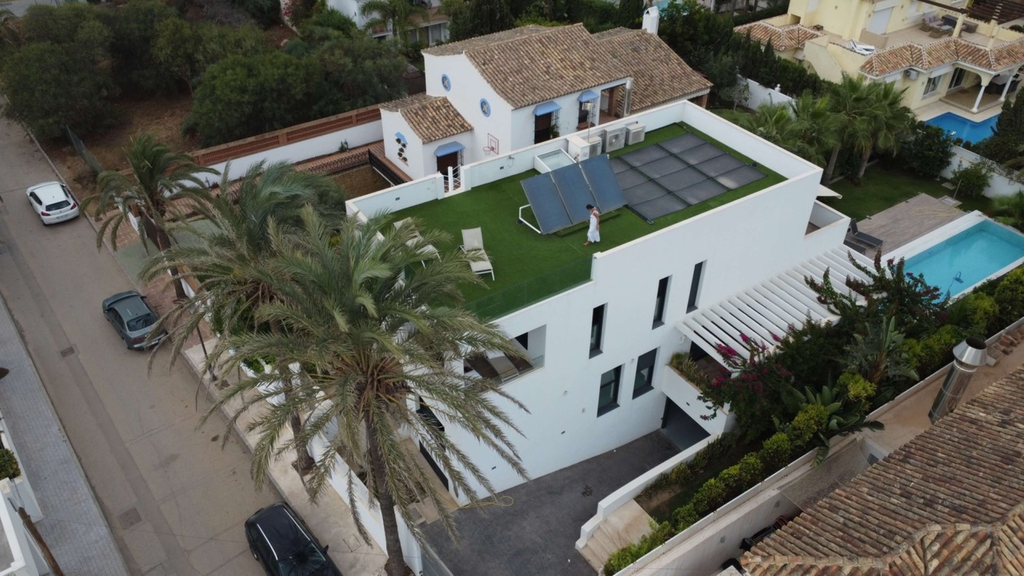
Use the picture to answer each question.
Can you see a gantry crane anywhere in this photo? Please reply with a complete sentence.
No, the photo shows no gantry crane.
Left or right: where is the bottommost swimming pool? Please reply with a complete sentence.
It is on the right.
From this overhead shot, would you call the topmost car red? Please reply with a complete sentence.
No, the topmost car is white.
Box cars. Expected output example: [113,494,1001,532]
[25,185,77,227]
[248,503,350,576]
[104,293,166,356]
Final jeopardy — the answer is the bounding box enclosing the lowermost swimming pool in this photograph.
[873,209,1024,296]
